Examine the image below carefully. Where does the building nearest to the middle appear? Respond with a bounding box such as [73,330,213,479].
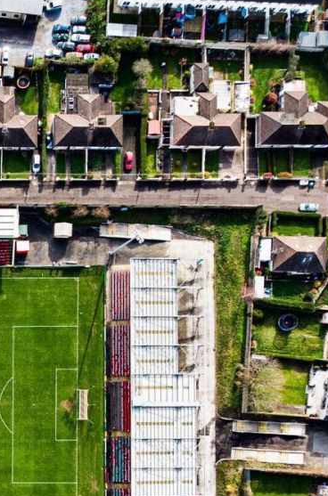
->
[96,222,173,242]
